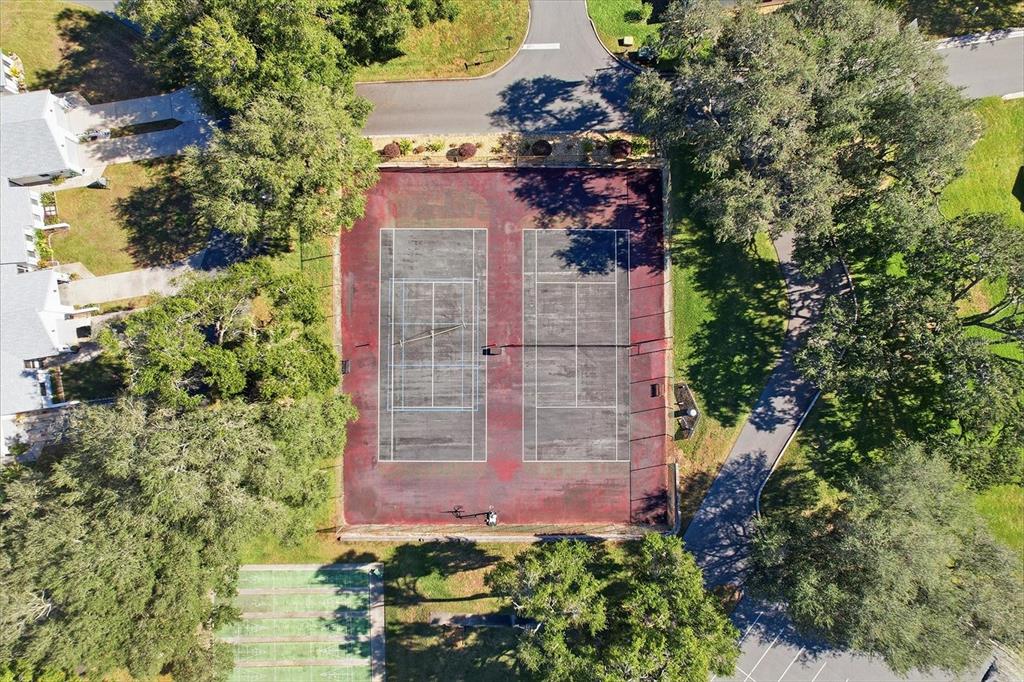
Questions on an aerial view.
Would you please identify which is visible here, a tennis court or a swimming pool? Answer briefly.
tennis court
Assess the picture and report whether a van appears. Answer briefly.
No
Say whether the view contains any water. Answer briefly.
No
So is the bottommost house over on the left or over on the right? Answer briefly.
left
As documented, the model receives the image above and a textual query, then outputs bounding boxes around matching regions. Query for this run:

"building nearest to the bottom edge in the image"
[0,245,75,416]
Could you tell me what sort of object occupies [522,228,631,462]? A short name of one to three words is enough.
tennis court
